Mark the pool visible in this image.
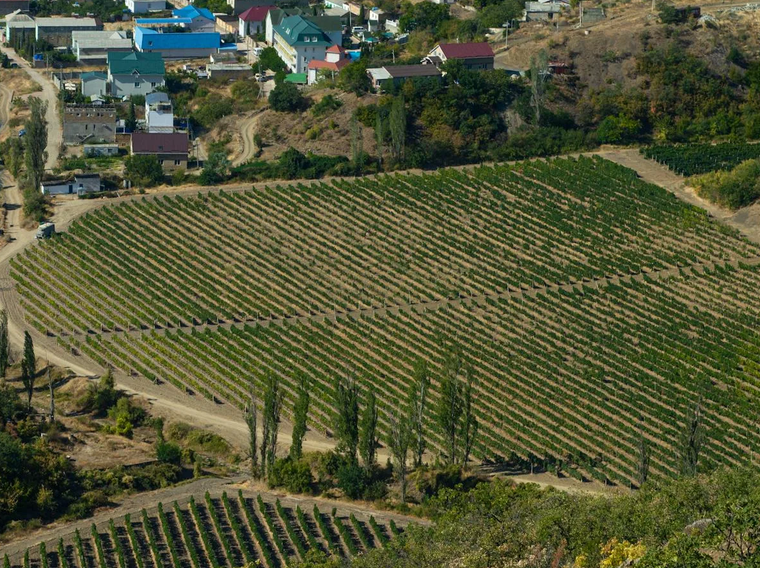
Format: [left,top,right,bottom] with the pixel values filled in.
[342,54,357,67]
